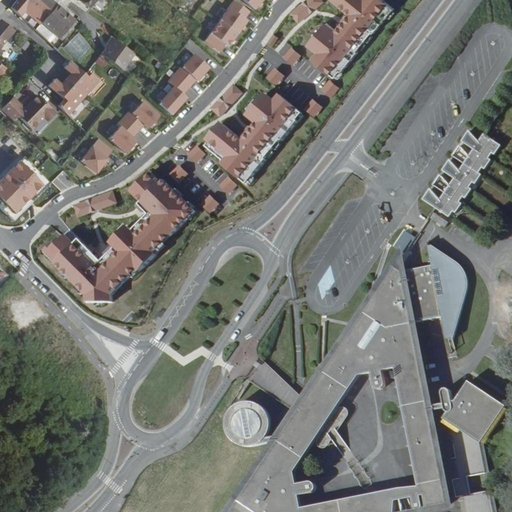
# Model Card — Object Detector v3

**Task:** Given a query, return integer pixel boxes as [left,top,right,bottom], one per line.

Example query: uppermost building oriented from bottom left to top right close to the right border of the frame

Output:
[421,129,502,217]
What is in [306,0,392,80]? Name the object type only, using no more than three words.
building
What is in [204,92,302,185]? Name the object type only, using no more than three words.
building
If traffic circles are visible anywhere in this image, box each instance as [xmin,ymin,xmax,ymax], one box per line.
[56,204,289,512]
